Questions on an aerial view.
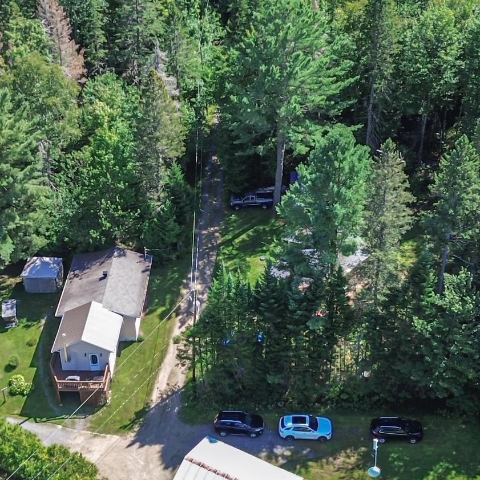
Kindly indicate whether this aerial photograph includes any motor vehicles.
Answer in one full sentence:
Yes, the photo shows a motor vehicle.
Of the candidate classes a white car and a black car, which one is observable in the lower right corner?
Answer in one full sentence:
The one visible in the lower right corner is a black car.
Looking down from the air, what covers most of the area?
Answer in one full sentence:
The scene is dominated by trees.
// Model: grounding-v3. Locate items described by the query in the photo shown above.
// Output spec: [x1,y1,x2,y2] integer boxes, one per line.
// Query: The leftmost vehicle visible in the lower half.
[216,409,266,437]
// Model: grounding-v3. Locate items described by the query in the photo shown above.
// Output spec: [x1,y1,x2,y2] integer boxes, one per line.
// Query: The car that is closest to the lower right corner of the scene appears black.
[370,417,424,444]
